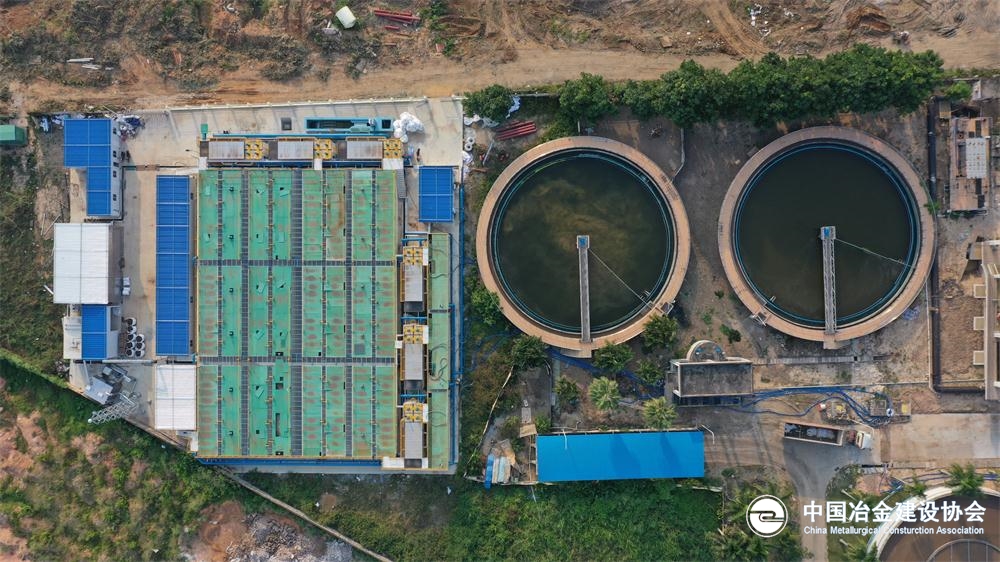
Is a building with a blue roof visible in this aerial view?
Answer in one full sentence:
Yes, this view includes a building with a blue roof.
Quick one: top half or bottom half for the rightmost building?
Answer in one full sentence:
Seen from above, the rightmost building lies in the bottom half of the view.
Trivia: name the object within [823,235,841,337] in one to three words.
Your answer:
bridge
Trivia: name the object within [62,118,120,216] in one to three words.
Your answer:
building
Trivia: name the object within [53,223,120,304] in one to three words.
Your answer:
building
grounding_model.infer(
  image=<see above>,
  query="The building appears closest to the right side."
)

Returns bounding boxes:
[672,362,753,397]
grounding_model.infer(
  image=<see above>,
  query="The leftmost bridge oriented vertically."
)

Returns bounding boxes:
[579,242,593,341]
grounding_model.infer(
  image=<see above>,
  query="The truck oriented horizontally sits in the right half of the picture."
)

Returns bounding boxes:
[787,422,875,454]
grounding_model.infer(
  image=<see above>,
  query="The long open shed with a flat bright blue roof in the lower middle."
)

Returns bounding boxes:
[536,424,704,483]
